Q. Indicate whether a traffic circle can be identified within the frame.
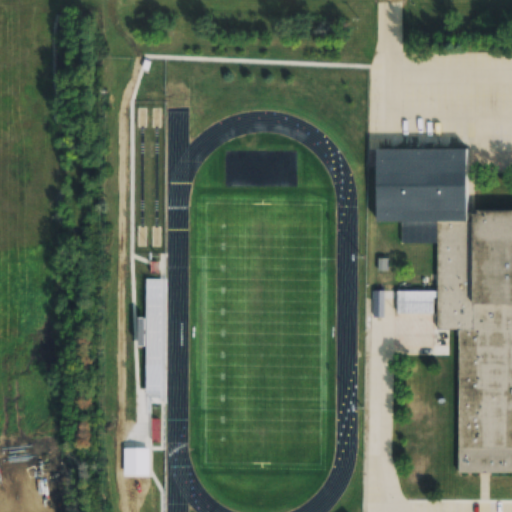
No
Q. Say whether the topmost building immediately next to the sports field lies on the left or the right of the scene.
right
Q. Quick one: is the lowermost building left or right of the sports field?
to the left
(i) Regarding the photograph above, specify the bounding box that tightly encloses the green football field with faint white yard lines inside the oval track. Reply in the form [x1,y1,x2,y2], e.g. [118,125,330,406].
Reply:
[200,199,328,471]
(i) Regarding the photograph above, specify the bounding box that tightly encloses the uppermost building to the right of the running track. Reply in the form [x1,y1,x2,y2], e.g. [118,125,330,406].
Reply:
[375,149,470,244]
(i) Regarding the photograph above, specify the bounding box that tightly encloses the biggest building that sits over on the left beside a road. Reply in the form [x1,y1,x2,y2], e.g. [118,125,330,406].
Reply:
[124,448,150,476]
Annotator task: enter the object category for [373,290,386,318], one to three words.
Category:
shed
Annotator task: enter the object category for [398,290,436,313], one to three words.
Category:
shed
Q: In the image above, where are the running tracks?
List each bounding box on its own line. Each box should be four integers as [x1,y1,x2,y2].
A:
[168,110,358,512]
